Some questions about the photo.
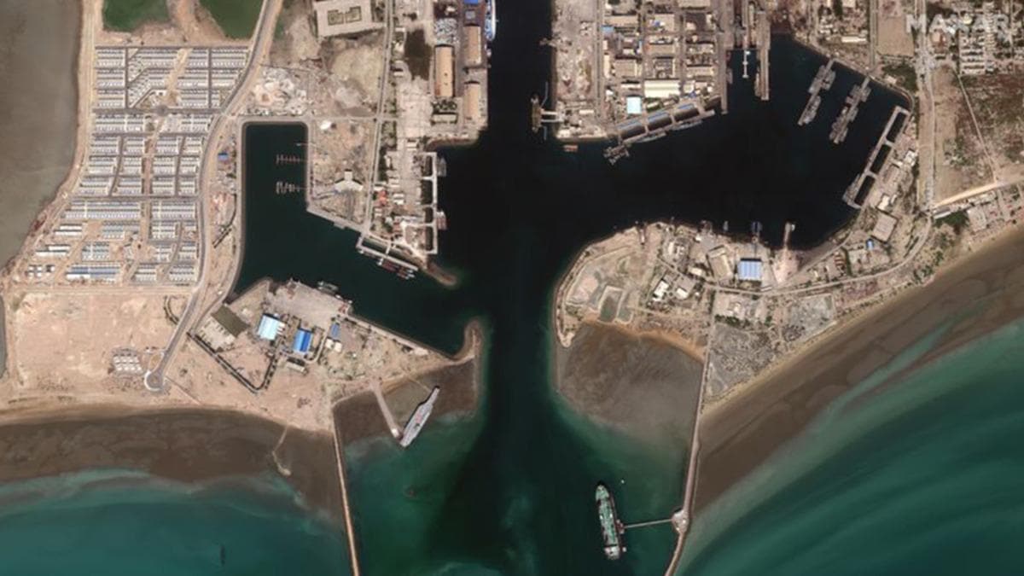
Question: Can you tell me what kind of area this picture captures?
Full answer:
This image shows a port.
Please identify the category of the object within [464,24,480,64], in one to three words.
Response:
building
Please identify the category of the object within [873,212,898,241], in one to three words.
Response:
building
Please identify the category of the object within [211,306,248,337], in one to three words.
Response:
hangar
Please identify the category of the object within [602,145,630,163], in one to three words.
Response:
ship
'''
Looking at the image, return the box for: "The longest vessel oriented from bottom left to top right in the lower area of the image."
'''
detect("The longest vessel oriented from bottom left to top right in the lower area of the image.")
[400,387,439,447]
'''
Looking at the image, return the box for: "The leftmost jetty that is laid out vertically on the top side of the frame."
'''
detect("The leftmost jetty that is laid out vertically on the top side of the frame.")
[404,153,437,254]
